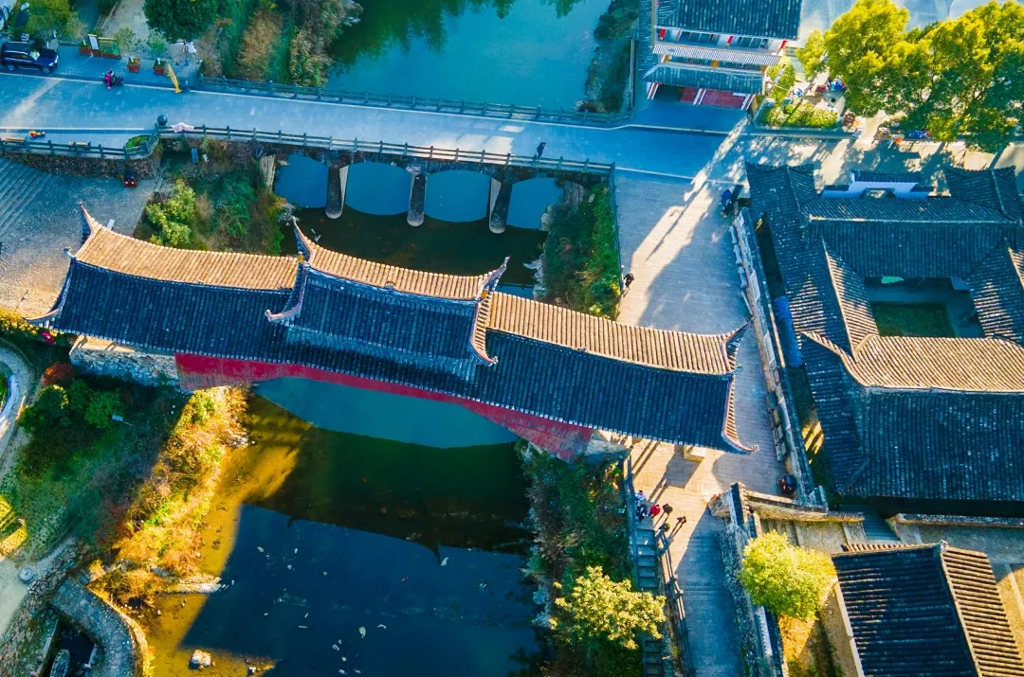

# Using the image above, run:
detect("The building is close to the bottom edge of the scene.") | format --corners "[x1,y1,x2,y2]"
[837,539,1020,677]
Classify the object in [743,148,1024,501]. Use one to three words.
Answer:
house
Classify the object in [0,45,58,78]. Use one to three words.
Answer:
car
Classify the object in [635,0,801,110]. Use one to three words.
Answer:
building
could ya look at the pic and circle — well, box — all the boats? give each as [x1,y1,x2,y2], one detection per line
[46,630,74,677]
